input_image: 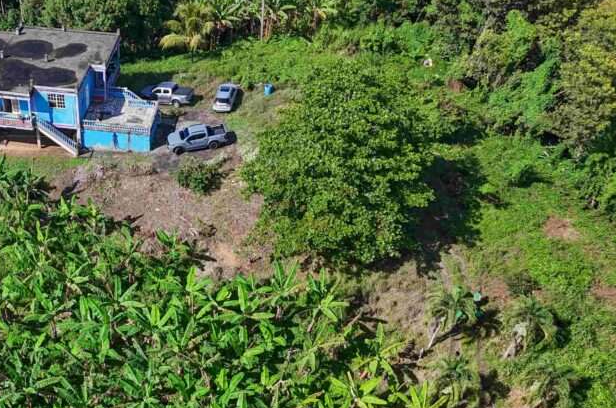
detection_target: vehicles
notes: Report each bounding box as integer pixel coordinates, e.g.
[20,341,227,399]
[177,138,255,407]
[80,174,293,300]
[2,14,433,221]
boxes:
[164,123,234,157]
[133,75,195,105]
[209,83,241,111]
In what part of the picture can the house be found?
top left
